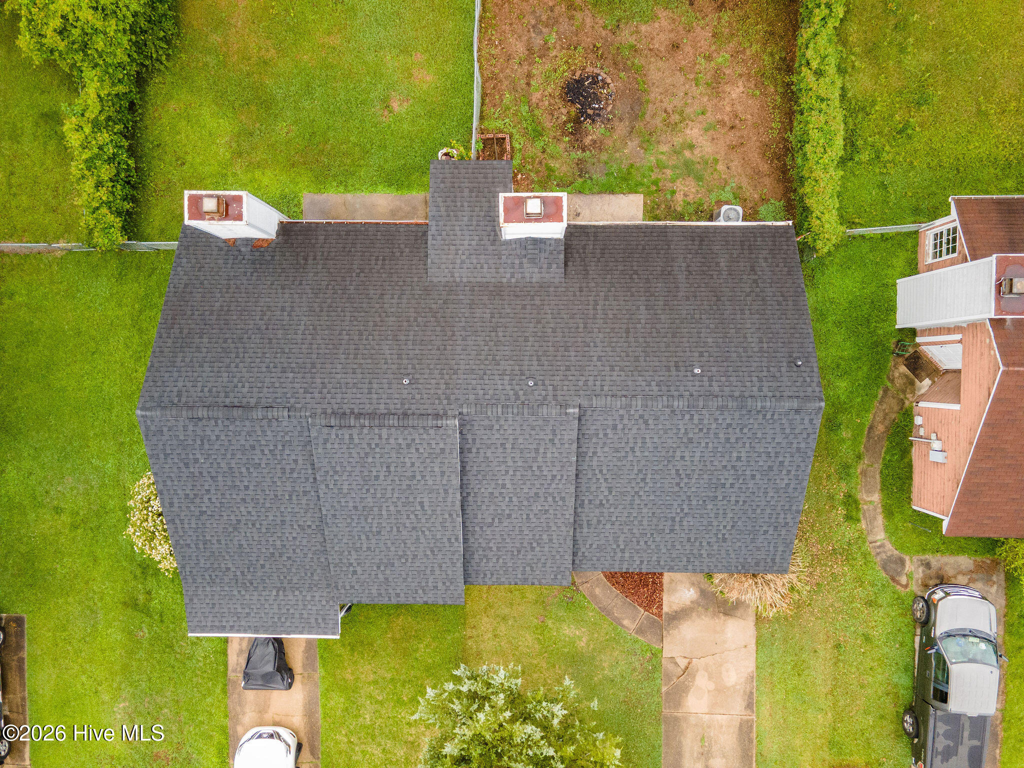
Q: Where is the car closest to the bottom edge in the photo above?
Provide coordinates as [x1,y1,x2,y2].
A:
[236,727,301,768]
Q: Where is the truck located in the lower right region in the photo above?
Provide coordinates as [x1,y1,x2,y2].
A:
[907,585,1014,768]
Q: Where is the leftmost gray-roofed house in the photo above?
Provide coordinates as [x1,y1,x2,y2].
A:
[137,160,823,639]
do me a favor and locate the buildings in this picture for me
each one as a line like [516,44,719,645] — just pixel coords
[896,194,1024,537]
[137,160,823,639]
